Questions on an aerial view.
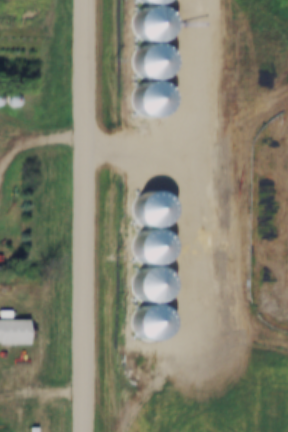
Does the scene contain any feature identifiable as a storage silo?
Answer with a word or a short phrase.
Yes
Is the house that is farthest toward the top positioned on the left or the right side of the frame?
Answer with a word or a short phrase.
left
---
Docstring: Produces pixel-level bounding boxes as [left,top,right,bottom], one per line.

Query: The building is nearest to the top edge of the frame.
[0,310,36,347]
